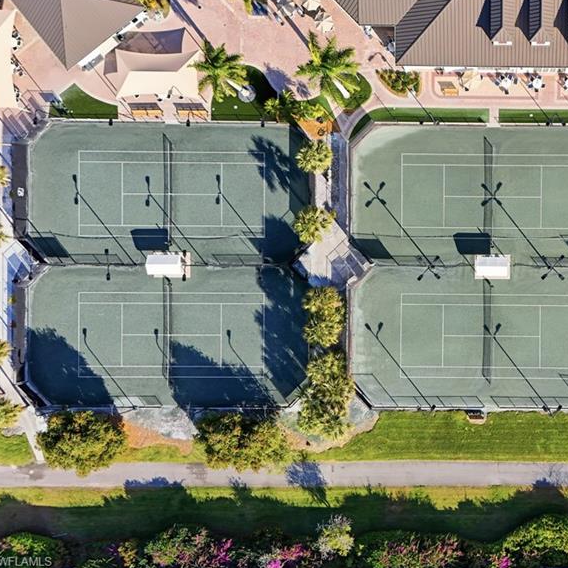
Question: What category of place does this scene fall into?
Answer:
sports ground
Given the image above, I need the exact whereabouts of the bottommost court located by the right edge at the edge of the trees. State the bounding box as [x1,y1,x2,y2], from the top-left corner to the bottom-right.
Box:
[349,265,568,409]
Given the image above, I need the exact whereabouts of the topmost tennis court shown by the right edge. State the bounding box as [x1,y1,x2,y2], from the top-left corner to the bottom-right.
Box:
[349,122,568,265]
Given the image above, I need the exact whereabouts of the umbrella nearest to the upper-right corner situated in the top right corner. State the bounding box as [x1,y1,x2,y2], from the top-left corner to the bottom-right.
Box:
[460,73,476,90]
